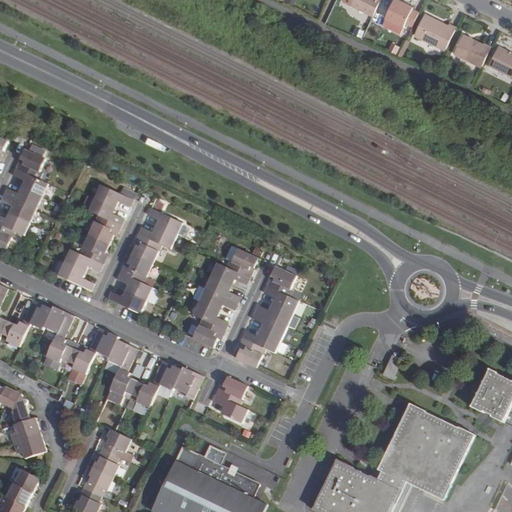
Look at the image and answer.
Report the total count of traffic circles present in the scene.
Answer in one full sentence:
In total, there is 1 traffic circle in the scene.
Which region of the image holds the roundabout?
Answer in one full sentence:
The roundabout sits in the right section of the image.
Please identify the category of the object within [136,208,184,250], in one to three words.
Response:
house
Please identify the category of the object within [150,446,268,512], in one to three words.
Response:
building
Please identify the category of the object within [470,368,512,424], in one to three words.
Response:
building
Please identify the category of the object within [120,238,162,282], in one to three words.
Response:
house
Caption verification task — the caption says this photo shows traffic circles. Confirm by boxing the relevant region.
[390,254,462,326]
